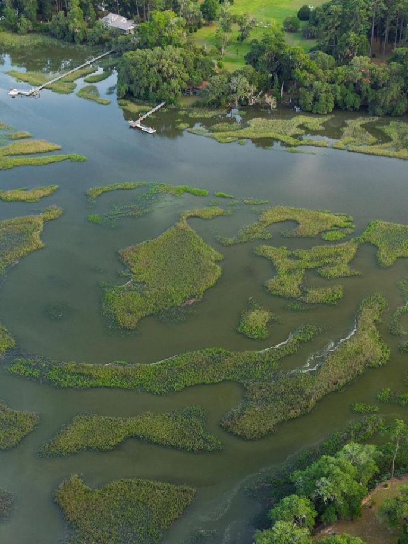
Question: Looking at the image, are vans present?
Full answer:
No, there isn't any van down there.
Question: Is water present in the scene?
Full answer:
Yes, the picture does contain water.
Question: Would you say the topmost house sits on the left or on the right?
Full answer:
You can find the topmost house on the left side of the picture.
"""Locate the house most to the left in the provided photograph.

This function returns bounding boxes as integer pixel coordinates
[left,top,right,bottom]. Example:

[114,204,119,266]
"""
[97,19,139,40]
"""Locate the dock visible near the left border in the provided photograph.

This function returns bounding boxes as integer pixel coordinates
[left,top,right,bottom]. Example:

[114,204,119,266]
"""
[16,49,119,97]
